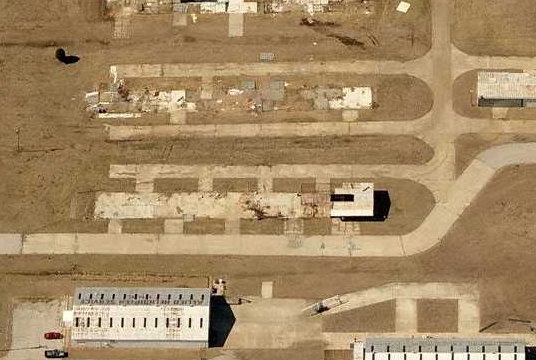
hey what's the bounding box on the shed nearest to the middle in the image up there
[331,183,374,224]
